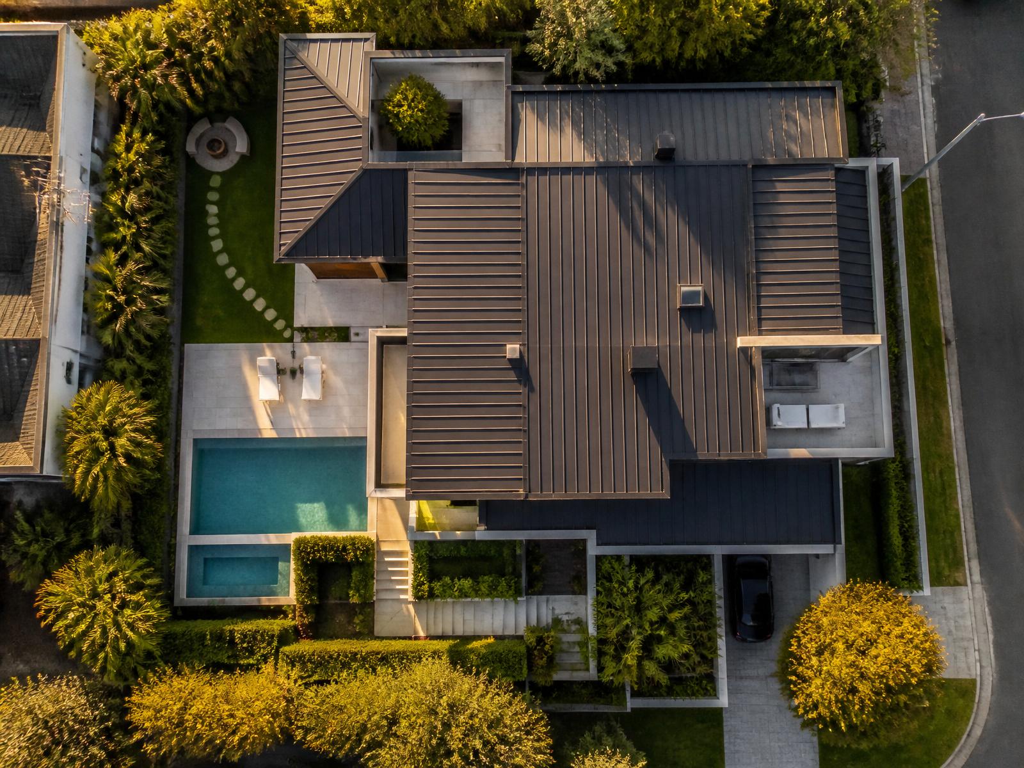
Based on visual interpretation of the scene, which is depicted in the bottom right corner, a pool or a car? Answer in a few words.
car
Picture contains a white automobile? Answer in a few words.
No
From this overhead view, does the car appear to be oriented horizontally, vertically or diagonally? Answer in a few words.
vertically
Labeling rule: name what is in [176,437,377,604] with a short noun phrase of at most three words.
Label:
swimming pool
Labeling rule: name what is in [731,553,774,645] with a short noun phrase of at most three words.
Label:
car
